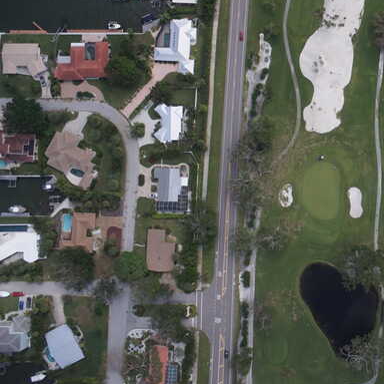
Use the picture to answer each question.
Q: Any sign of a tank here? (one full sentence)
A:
No, I can't see a single tank in this photo.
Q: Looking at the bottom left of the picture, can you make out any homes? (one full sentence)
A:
Yes, I can see a home at the bottom left of the picture.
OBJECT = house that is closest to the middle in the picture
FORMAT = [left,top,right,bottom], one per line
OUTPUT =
[154,167,189,201]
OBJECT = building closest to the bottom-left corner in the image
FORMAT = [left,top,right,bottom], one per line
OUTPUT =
[0,315,34,352]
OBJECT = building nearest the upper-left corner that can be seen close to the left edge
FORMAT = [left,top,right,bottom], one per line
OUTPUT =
[2,43,50,79]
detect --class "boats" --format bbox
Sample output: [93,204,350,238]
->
[106,22,121,28]
[39,184,55,189]
[140,14,157,24]
[28,375,47,383]
[6,206,25,212]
